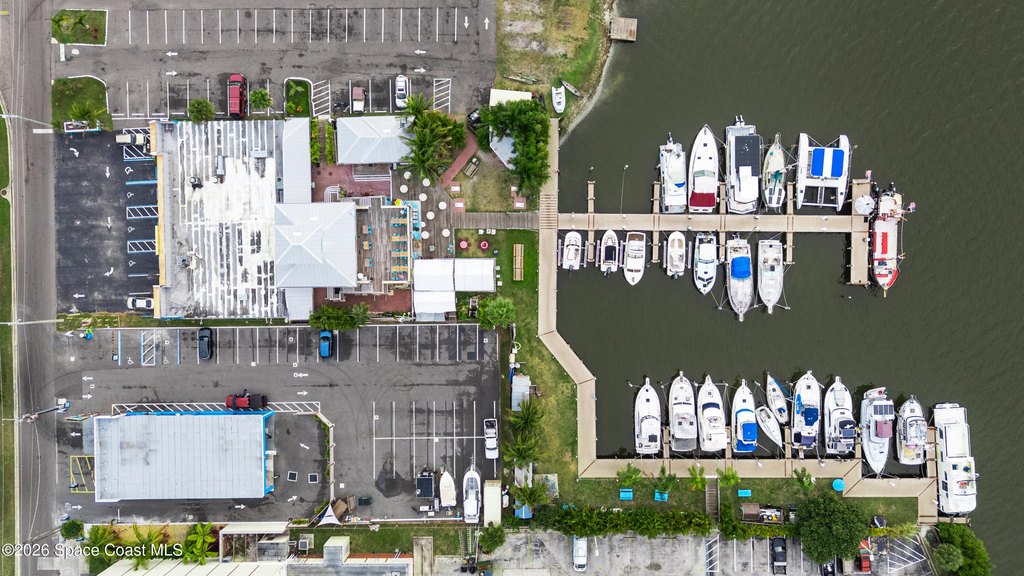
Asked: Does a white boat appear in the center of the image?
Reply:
Yes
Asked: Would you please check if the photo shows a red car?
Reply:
Yes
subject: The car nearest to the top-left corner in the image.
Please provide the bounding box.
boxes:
[111,131,145,145]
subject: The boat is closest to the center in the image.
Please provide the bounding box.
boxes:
[562,231,581,274]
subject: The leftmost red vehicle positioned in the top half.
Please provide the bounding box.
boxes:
[225,75,244,118]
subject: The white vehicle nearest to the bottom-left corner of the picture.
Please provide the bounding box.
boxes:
[126,295,154,310]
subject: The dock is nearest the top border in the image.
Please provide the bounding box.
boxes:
[604,18,637,43]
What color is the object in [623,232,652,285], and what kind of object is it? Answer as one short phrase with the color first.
white boat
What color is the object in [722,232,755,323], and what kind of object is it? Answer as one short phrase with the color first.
white boat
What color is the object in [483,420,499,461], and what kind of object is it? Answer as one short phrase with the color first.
white vehicle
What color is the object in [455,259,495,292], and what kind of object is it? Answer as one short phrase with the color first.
white tent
